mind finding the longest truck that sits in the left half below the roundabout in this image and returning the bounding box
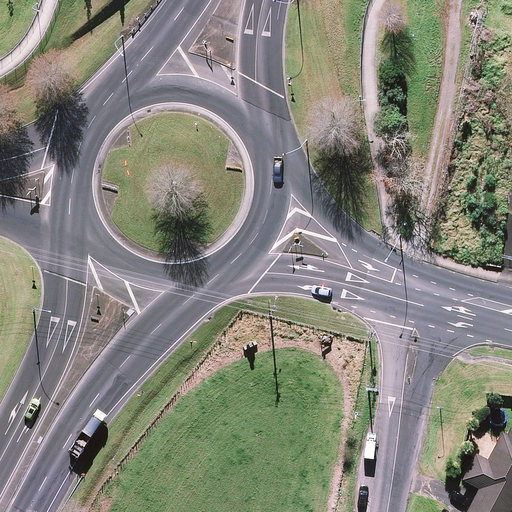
[68,410,107,460]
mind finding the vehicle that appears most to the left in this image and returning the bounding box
[26,396,41,418]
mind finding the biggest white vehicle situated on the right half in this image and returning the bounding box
[364,434,378,462]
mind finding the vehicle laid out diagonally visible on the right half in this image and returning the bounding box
[450,490,471,510]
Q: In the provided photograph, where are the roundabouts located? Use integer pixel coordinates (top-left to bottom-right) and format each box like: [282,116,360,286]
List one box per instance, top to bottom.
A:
[93,102,254,264]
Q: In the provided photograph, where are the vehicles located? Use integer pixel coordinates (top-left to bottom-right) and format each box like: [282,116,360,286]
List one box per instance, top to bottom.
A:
[272,158,283,184]
[311,286,332,296]
[26,396,41,418]
[68,410,107,460]
[364,434,378,462]
[358,486,368,508]
[450,490,471,510]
